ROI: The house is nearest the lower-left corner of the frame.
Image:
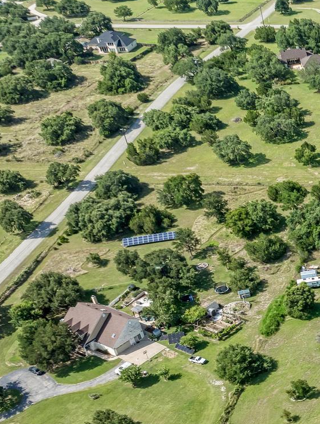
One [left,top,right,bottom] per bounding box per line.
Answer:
[63,292,143,354]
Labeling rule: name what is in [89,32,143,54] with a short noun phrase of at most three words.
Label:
house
